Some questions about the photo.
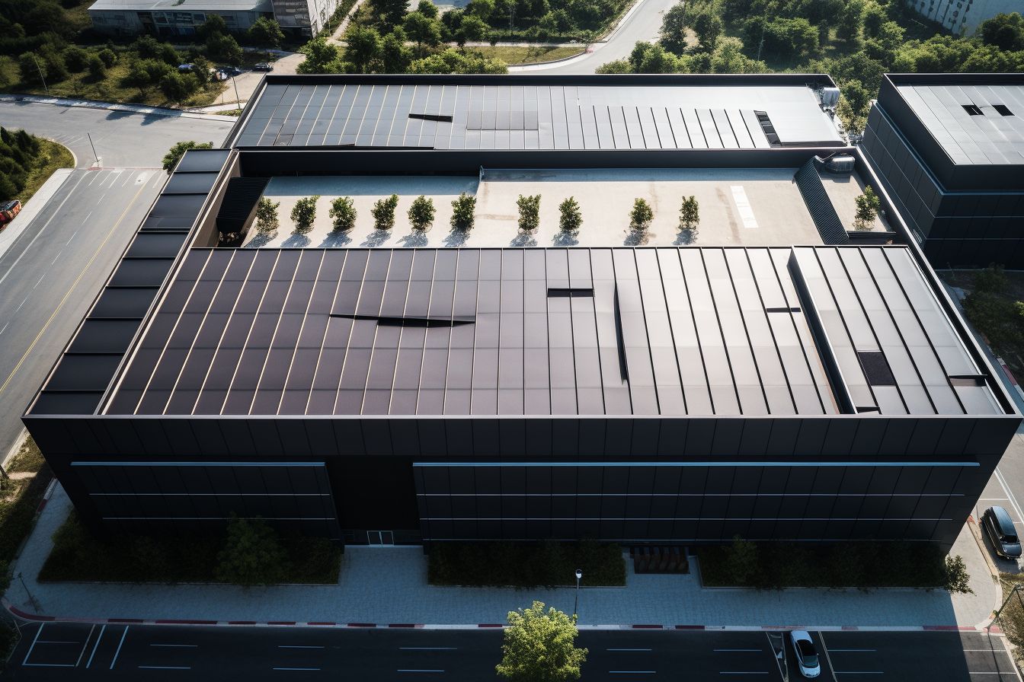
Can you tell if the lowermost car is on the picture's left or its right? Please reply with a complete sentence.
You can find the lowermost car on the right side of the picture.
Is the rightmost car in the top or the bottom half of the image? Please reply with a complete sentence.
The rightmost car sits in the bottom half of the picture.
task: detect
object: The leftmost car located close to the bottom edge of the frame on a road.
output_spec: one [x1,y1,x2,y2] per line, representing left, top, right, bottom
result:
[786,631,822,681]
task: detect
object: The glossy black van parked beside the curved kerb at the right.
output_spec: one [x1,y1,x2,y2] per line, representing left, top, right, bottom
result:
[974,510,1021,563]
